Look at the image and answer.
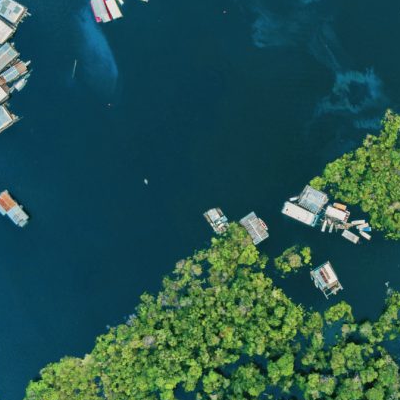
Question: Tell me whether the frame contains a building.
Yes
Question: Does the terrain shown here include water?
Yes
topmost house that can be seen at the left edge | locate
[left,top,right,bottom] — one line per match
[0,0,29,26]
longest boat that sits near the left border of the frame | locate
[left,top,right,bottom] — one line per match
[9,74,30,93]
